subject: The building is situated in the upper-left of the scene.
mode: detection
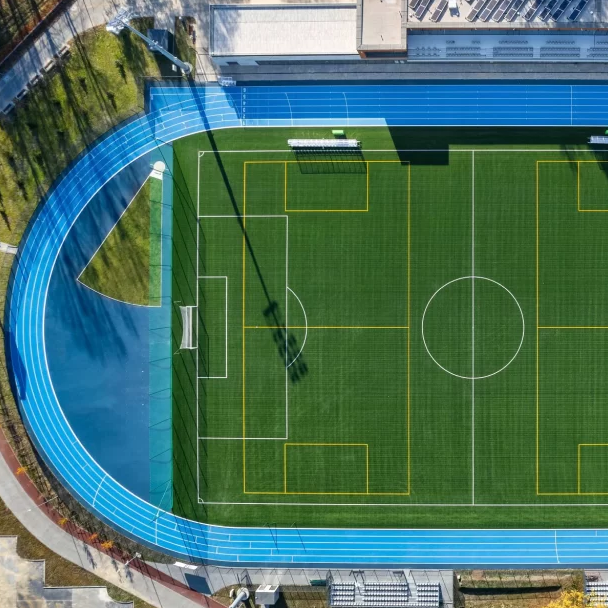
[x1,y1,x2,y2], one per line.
[147,30,175,55]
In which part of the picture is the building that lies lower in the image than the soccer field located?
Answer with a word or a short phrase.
bottom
